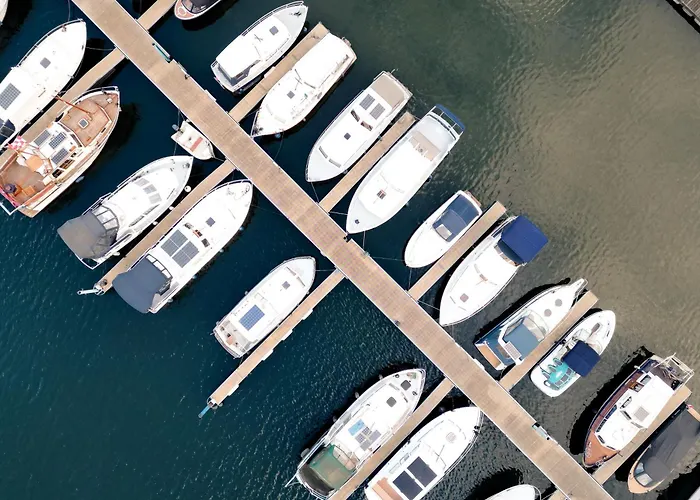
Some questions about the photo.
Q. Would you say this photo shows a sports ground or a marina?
marina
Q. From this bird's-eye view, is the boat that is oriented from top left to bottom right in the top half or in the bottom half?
top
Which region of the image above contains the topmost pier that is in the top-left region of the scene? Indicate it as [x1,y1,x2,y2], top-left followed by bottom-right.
[133,0,172,33]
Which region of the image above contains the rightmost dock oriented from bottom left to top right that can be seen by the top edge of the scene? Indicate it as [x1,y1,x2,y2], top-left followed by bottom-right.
[226,22,330,125]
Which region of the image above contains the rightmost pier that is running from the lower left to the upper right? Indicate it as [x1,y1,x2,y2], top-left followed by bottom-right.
[590,387,692,490]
